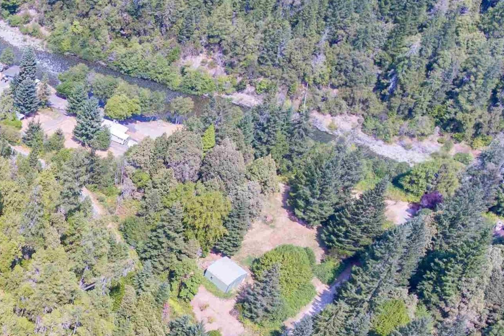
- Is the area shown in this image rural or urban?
rural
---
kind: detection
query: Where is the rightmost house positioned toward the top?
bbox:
[96,118,130,144]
